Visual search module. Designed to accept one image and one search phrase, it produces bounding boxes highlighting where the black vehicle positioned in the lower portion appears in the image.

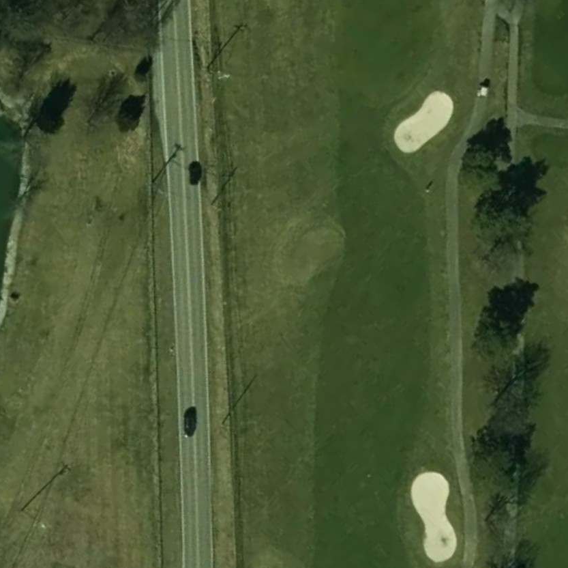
[182,410,195,436]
